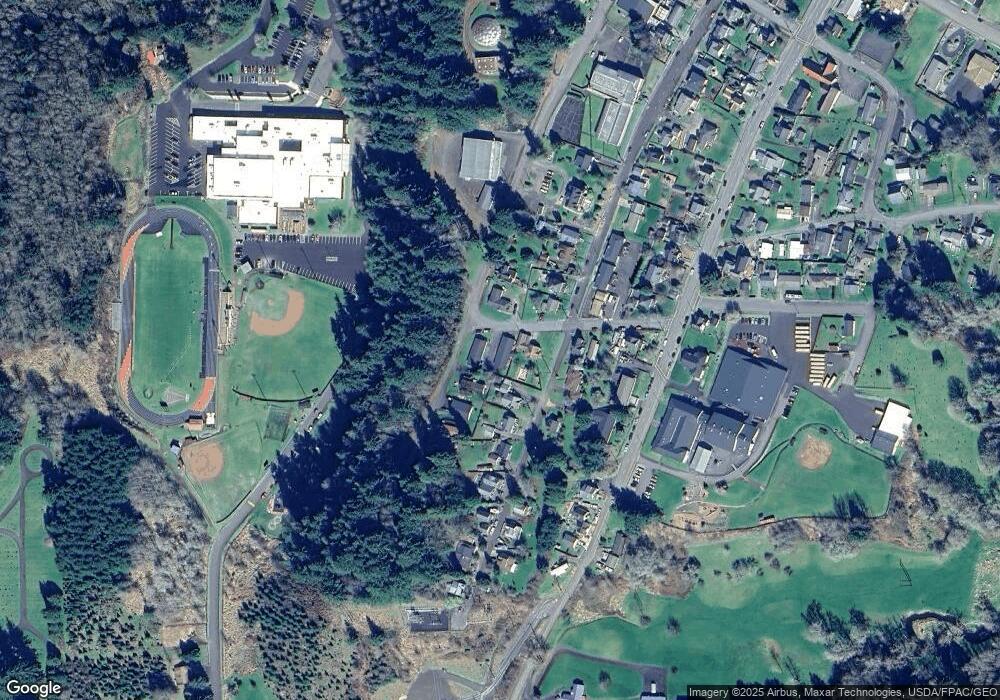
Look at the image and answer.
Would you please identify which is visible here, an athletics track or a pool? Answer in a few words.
athletics track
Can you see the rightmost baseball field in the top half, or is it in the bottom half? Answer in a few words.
bottom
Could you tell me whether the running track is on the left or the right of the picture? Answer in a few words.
left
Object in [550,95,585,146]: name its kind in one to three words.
sports court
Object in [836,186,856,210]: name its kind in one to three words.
house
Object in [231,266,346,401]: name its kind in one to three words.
baseball field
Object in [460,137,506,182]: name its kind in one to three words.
building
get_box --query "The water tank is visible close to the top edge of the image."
[472,16,500,46]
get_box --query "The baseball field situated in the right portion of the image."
[726,424,890,531]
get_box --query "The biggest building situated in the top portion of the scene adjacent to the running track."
[191,115,354,229]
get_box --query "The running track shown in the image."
[116,204,223,428]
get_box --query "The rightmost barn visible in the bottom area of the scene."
[871,400,914,456]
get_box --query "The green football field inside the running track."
[132,219,205,415]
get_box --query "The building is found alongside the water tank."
[475,57,501,76]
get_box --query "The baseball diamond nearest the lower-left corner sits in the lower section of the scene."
[183,412,262,523]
